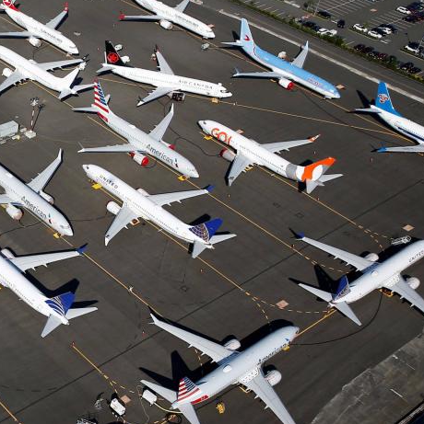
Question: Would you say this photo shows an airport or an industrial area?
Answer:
airport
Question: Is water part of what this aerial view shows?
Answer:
No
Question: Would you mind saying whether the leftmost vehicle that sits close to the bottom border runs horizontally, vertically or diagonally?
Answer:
diagonally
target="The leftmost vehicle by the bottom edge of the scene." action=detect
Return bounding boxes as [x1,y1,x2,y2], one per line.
[108,395,131,416]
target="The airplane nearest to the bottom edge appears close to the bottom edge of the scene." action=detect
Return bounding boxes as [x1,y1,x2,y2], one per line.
[140,312,300,424]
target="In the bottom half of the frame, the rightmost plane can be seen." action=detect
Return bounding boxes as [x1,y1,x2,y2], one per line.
[298,229,424,327]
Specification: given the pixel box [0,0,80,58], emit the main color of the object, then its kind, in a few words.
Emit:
white airplane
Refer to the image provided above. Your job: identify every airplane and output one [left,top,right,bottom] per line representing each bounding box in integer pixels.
[0,244,97,337]
[0,147,71,235]
[0,47,95,99]
[121,0,215,43]
[96,43,231,110]
[72,82,199,177]
[83,167,236,259]
[140,312,300,424]
[298,229,424,327]
[221,19,341,99]
[199,122,343,194]
[354,84,424,158]
[0,0,80,58]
